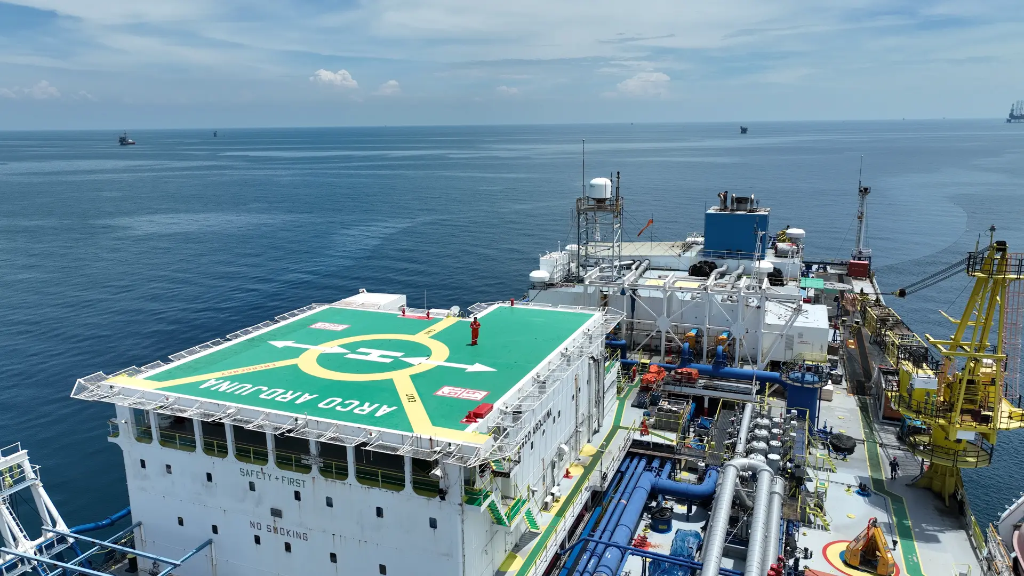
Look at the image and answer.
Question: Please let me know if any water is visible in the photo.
Yes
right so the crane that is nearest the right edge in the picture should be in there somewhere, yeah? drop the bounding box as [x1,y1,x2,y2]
[891,222,1024,507]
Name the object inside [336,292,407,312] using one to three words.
house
